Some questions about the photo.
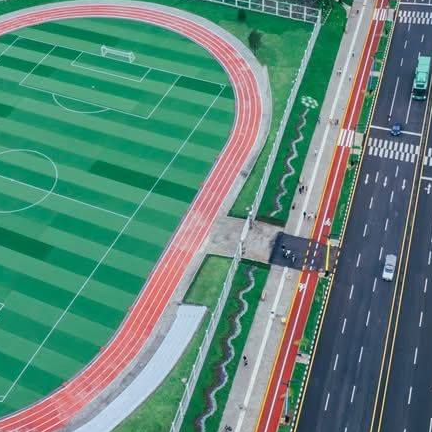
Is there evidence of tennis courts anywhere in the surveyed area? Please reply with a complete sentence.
No, no tennis court is visible in the scene.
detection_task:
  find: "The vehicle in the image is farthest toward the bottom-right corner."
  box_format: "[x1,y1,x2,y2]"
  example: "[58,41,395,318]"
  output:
[383,251,398,279]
